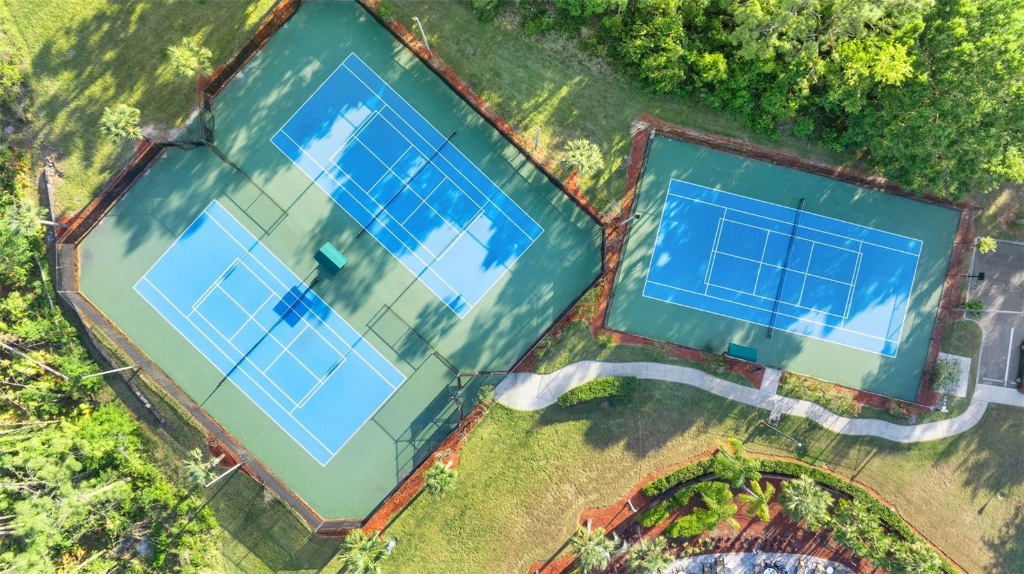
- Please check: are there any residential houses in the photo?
No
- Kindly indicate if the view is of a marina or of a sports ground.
sports ground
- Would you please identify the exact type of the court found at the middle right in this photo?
tennis court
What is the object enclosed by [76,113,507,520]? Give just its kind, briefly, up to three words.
tennis court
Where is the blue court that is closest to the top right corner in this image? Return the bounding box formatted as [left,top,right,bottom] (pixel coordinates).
[605,134,962,403]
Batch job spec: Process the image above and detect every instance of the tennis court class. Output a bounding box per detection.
[76,113,507,520]
[213,0,604,373]
[605,134,962,403]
